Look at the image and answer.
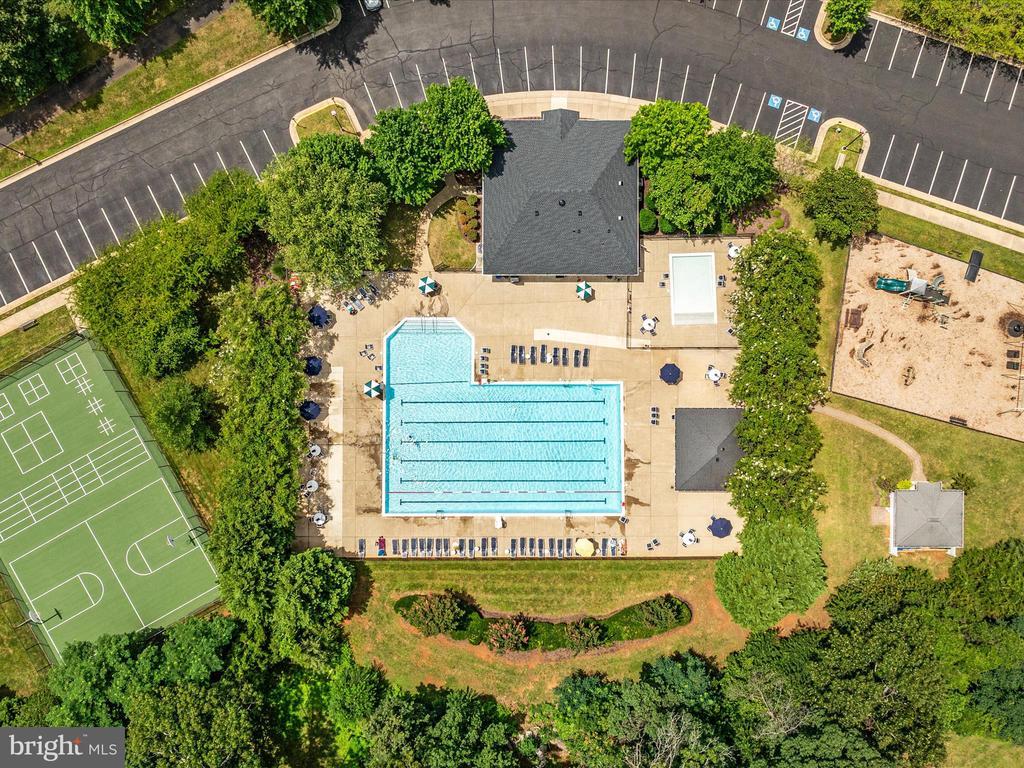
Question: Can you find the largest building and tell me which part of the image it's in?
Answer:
top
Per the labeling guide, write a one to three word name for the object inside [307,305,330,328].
umbrella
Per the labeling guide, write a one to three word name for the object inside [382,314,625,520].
swimming pool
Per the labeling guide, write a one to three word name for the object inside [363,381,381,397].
umbrella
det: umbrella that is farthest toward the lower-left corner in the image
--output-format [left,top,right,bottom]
[300,400,321,420]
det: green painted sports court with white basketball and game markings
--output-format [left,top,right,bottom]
[0,331,228,680]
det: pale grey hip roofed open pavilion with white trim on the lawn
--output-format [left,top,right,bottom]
[885,482,964,554]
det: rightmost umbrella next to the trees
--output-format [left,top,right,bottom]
[708,515,732,539]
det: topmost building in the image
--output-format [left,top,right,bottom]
[482,108,639,275]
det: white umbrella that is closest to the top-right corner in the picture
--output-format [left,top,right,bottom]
[575,281,593,300]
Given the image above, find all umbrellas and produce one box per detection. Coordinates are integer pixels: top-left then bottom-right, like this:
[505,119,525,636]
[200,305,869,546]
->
[300,400,321,420]
[363,381,381,397]
[307,305,330,328]
[708,515,732,539]
[304,356,323,375]
[574,537,594,558]
[575,281,593,300]
[659,363,680,384]
[418,277,438,295]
